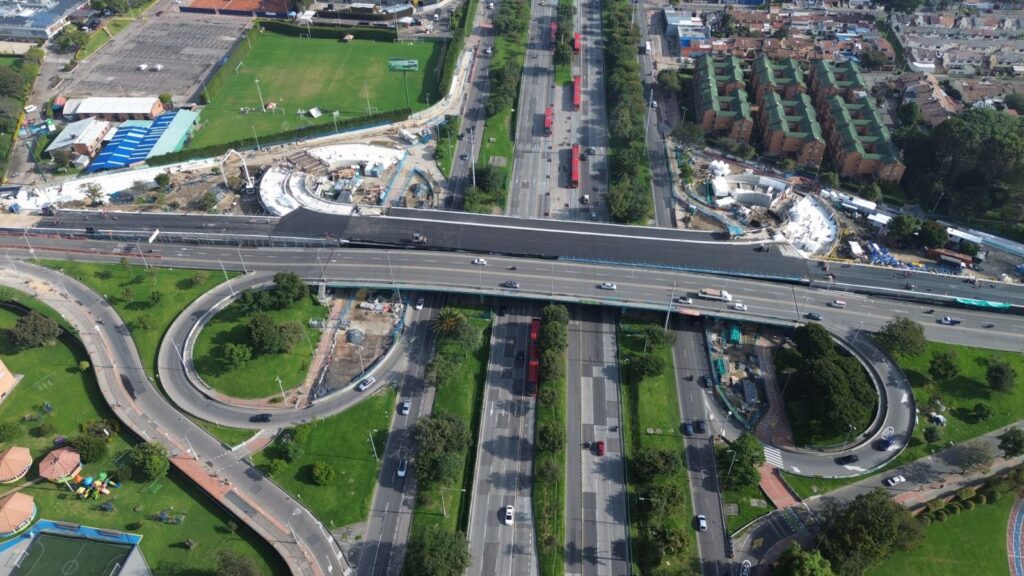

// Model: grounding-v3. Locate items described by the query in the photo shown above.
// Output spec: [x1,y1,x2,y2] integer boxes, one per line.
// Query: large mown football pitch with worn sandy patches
[183,33,446,148]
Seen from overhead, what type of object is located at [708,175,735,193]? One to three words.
tent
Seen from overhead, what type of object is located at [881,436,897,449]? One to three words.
vehicle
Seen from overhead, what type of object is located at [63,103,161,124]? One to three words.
building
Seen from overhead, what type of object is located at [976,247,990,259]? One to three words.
vehicle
